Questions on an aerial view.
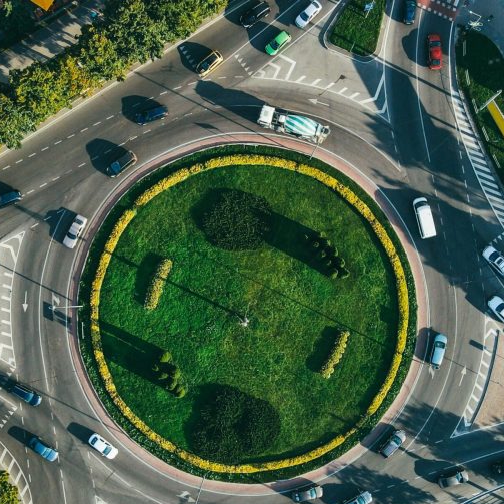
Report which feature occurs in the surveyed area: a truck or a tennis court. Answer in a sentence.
It is a truck that can be seen here.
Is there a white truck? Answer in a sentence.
Yes, the frame does contain a white truck.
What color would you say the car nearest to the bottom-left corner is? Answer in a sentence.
From above, the car nearest to the bottom-left corner appears blue.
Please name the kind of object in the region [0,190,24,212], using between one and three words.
car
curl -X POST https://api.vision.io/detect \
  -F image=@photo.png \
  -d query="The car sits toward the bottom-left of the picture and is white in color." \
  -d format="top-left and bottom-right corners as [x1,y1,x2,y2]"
[87,433,119,458]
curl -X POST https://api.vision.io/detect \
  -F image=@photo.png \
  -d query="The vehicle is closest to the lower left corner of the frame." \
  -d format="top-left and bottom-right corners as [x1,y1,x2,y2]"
[27,435,59,461]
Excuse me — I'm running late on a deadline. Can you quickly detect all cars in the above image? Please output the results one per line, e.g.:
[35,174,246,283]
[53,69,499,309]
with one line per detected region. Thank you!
[378,429,406,458]
[9,382,44,407]
[425,35,444,72]
[437,469,468,488]
[106,150,138,179]
[292,484,323,501]
[239,0,272,30]
[27,435,59,461]
[87,433,119,458]
[63,215,89,249]
[428,332,448,368]
[194,49,223,78]
[135,105,168,128]
[340,489,373,504]
[486,295,504,324]
[0,190,24,212]
[263,29,293,59]
[401,0,419,27]
[294,0,323,32]
[481,245,504,277]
